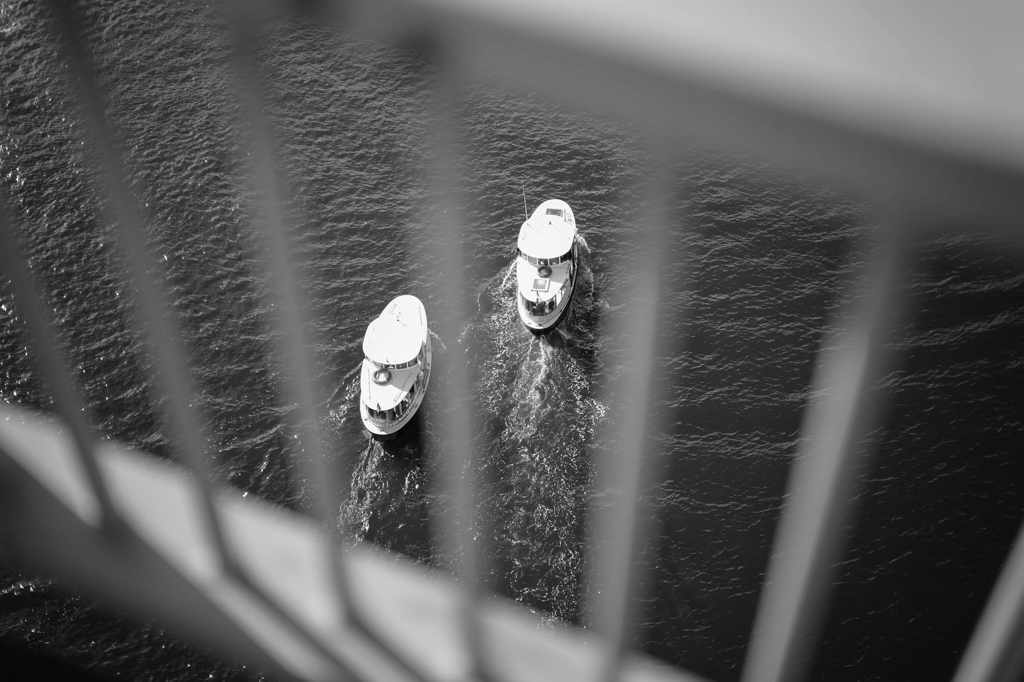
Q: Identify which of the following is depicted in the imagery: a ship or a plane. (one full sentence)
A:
This aerial view contains a ship.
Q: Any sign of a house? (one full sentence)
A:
No, there is no house in the image.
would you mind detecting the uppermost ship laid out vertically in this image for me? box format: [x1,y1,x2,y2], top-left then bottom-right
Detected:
[516,169,581,337]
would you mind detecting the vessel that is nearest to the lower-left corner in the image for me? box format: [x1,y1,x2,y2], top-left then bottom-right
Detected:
[360,293,433,442]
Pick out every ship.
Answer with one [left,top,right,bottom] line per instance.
[516,169,581,337]
[360,293,433,442]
